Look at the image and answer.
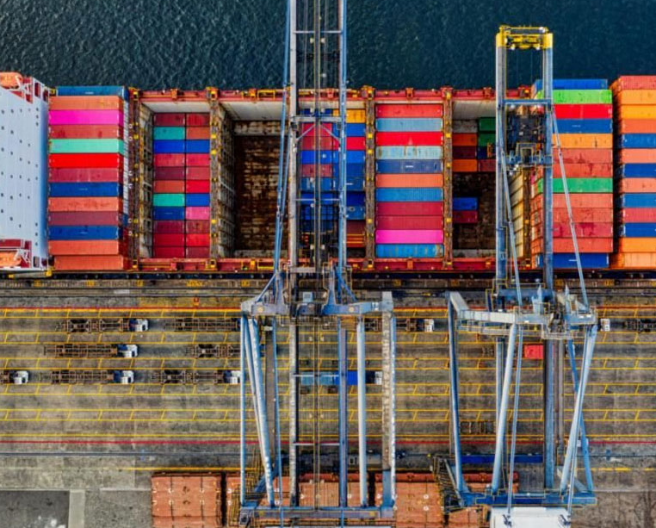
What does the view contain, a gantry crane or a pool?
gantry crane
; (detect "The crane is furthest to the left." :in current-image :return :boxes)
[221,0,414,528]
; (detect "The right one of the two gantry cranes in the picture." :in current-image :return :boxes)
[426,24,607,528]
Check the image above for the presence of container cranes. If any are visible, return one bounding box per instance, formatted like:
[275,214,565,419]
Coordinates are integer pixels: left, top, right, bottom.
[221,0,414,528]
[426,24,607,528]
